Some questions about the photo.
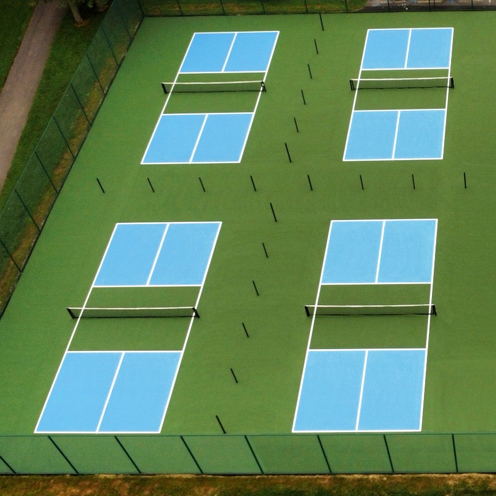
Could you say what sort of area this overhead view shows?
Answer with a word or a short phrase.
sports ground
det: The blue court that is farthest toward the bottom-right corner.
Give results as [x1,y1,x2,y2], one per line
[294,220,436,431]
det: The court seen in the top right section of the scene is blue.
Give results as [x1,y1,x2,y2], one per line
[344,28,452,160]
